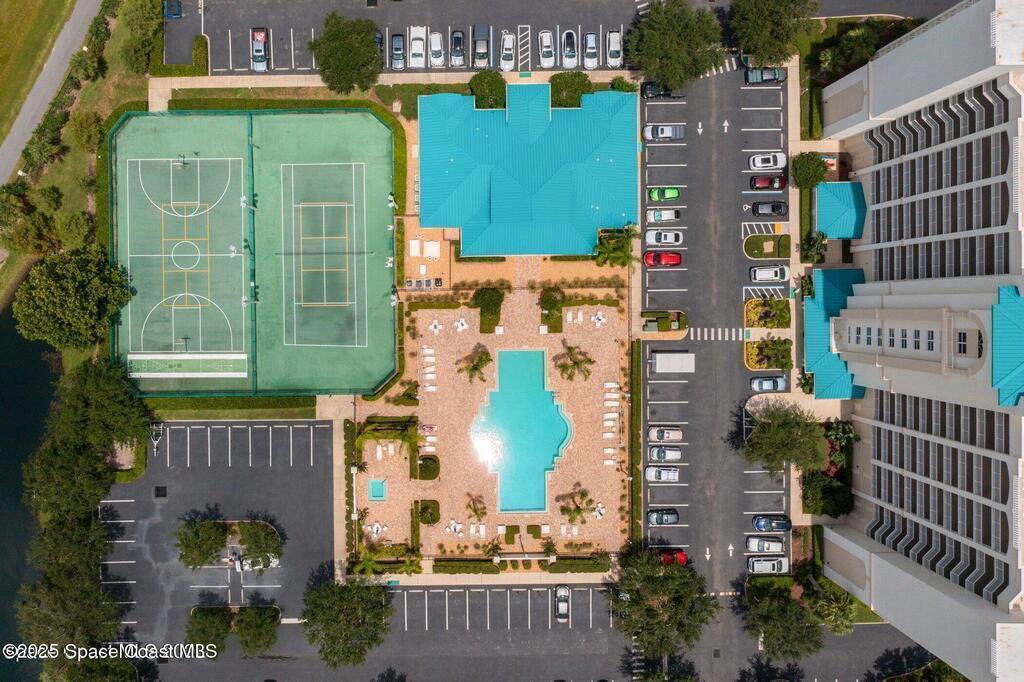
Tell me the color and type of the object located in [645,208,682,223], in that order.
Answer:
white car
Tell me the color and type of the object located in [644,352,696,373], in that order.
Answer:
white trailer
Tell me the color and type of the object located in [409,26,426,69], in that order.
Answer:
white vehicle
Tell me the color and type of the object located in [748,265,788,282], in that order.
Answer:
white car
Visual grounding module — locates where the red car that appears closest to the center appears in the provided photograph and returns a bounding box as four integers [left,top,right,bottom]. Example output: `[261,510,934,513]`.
[643,251,681,267]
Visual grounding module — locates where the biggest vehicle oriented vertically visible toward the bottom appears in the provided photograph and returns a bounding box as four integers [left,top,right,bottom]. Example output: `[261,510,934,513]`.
[555,584,571,622]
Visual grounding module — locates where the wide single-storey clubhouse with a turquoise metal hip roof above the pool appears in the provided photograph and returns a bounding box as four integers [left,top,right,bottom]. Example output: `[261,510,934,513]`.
[418,83,642,256]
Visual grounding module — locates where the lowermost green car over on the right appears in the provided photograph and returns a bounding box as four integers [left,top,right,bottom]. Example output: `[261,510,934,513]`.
[648,186,679,202]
